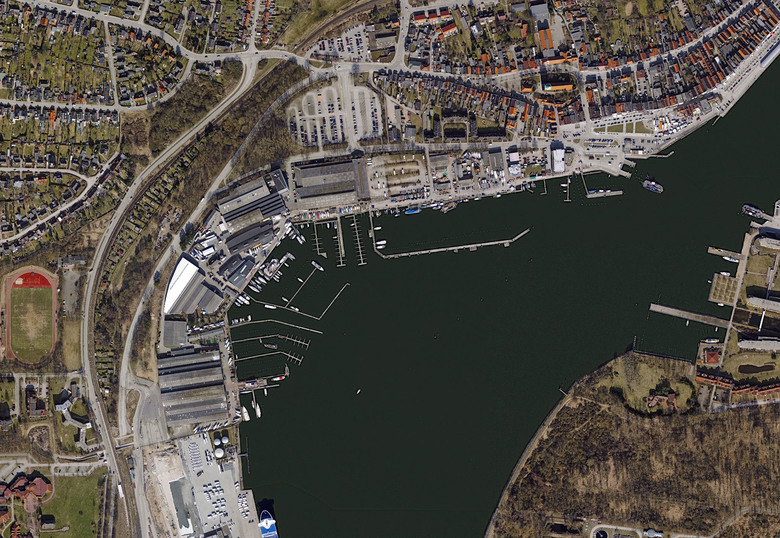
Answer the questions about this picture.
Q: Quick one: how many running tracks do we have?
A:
1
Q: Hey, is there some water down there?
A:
Yes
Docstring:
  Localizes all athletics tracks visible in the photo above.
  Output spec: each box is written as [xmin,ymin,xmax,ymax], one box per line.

[6,267,56,367]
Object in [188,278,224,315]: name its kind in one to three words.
building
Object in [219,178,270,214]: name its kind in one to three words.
building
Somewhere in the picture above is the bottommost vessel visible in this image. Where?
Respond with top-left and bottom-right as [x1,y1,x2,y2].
[259,511,280,538]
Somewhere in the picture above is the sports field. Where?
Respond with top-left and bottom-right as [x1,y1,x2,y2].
[11,287,52,363]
